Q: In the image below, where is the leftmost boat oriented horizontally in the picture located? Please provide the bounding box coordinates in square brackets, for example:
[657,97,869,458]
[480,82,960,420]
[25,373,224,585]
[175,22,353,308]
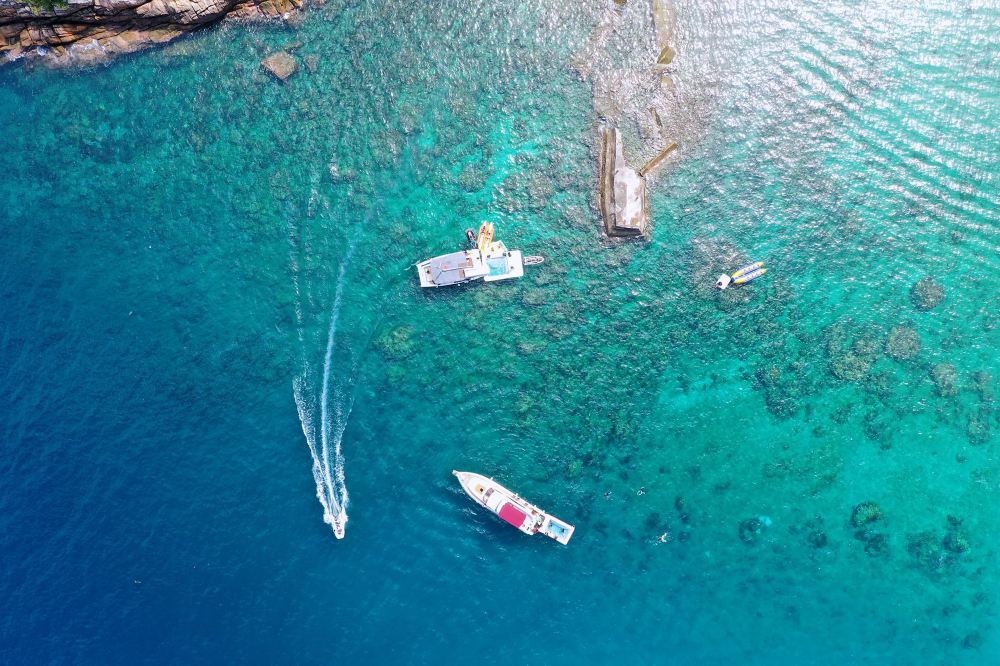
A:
[404,248,485,290]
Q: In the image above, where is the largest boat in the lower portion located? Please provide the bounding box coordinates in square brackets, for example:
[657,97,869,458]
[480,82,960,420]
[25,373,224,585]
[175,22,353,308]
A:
[450,472,546,535]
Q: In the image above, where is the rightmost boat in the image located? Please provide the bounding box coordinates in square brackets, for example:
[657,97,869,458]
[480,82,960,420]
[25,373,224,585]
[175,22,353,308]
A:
[732,264,769,282]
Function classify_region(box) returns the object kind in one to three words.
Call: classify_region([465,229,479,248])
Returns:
boat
